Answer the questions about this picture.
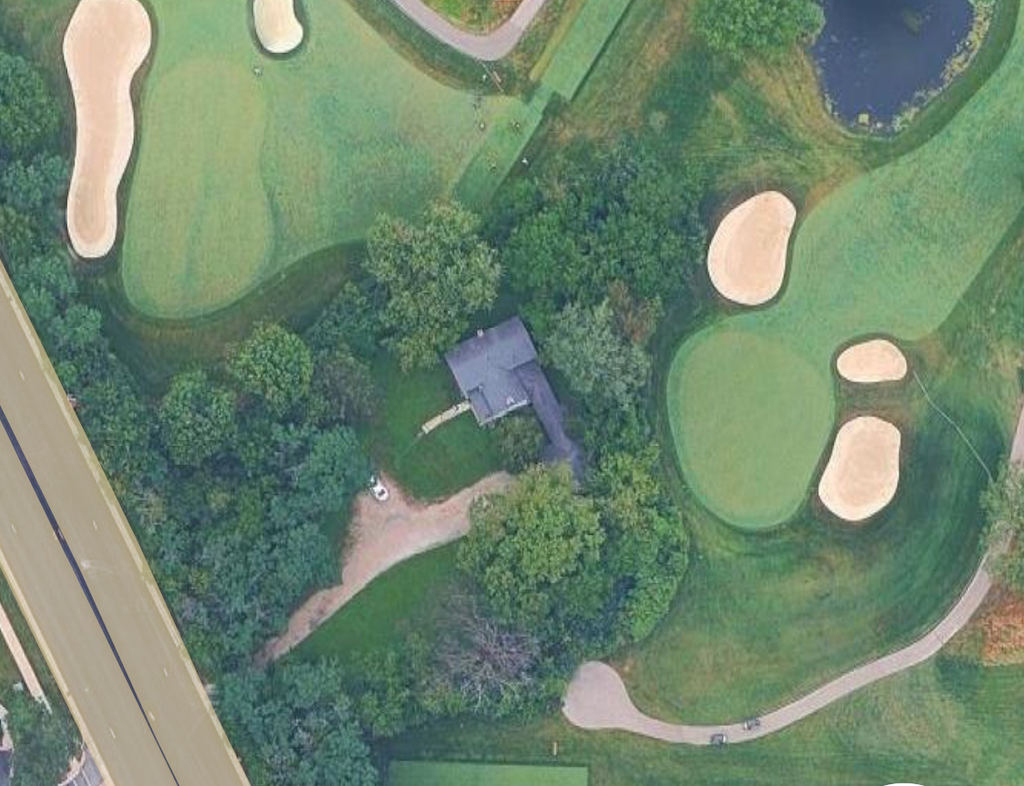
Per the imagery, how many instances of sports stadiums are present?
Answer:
zero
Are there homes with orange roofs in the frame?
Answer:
No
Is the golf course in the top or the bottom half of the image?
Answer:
top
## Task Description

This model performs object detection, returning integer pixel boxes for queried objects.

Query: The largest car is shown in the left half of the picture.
[371,478,391,504]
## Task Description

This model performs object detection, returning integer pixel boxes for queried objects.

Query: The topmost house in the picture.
[444,317,550,426]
